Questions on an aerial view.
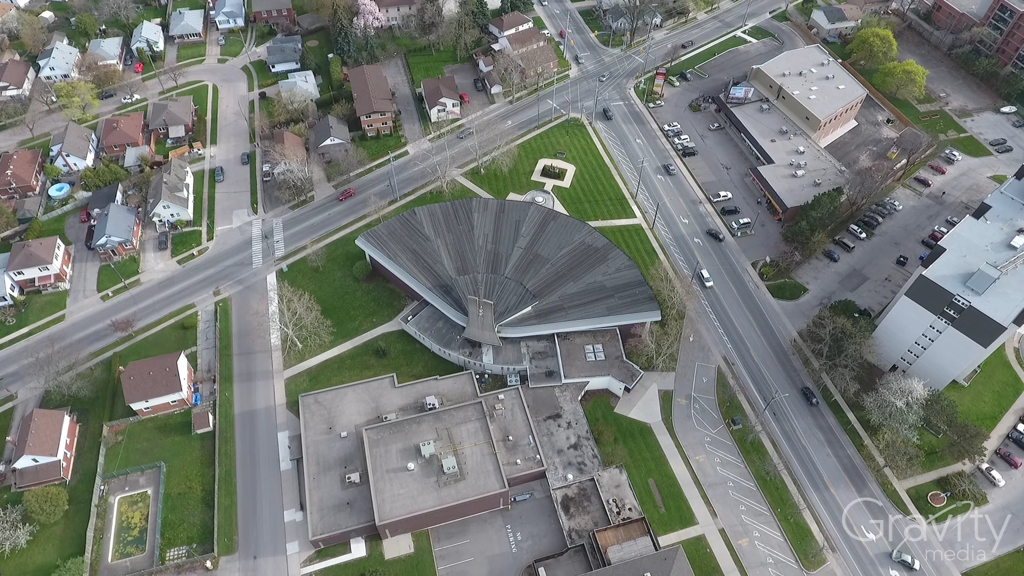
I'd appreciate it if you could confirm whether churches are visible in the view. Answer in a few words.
Yes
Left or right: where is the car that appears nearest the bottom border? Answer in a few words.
right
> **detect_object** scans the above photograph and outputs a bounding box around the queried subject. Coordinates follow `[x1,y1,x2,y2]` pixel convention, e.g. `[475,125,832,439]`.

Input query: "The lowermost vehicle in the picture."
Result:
[890,550,921,573]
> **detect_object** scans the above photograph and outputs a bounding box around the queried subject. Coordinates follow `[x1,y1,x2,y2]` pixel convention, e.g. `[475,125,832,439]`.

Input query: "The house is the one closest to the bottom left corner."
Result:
[11,408,73,486]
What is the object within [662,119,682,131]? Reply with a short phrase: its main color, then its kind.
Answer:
white vehicle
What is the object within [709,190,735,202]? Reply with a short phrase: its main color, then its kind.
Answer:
white vehicle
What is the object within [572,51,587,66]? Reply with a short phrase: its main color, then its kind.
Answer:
gray car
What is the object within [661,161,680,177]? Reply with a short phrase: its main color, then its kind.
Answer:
gray car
